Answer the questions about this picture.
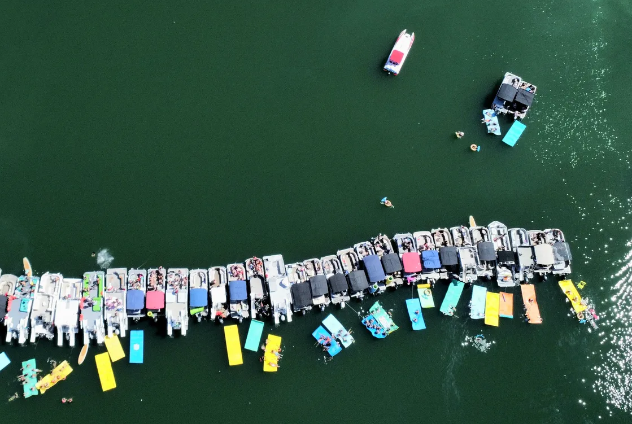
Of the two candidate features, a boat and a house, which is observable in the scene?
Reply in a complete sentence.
Of the two, only a boat appears.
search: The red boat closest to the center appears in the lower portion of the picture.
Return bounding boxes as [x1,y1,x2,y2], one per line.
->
[395,234,422,281]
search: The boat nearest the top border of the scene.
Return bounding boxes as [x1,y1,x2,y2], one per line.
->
[382,30,415,78]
